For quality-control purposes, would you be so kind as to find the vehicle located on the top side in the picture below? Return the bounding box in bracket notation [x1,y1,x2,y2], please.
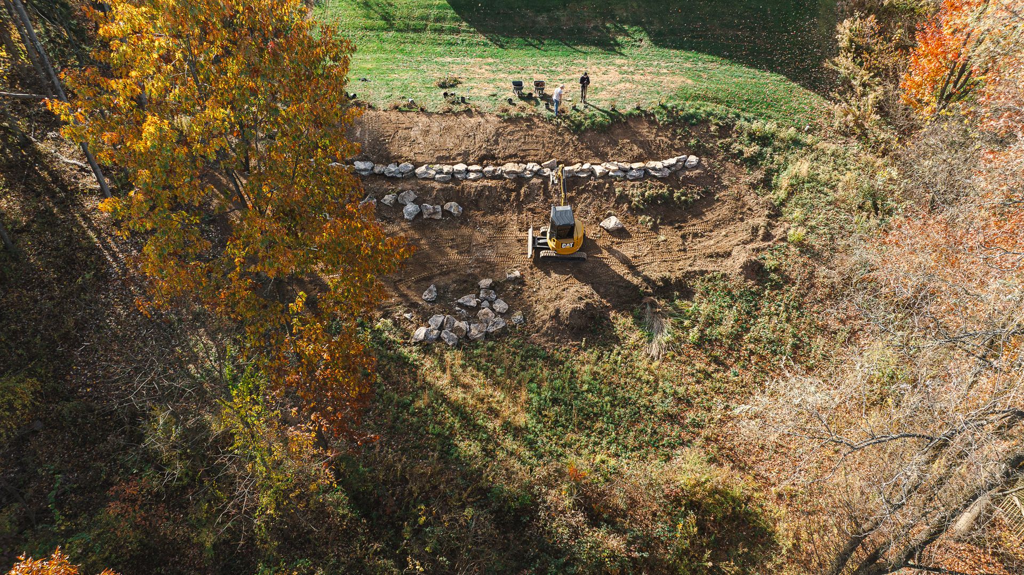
[526,156,588,260]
